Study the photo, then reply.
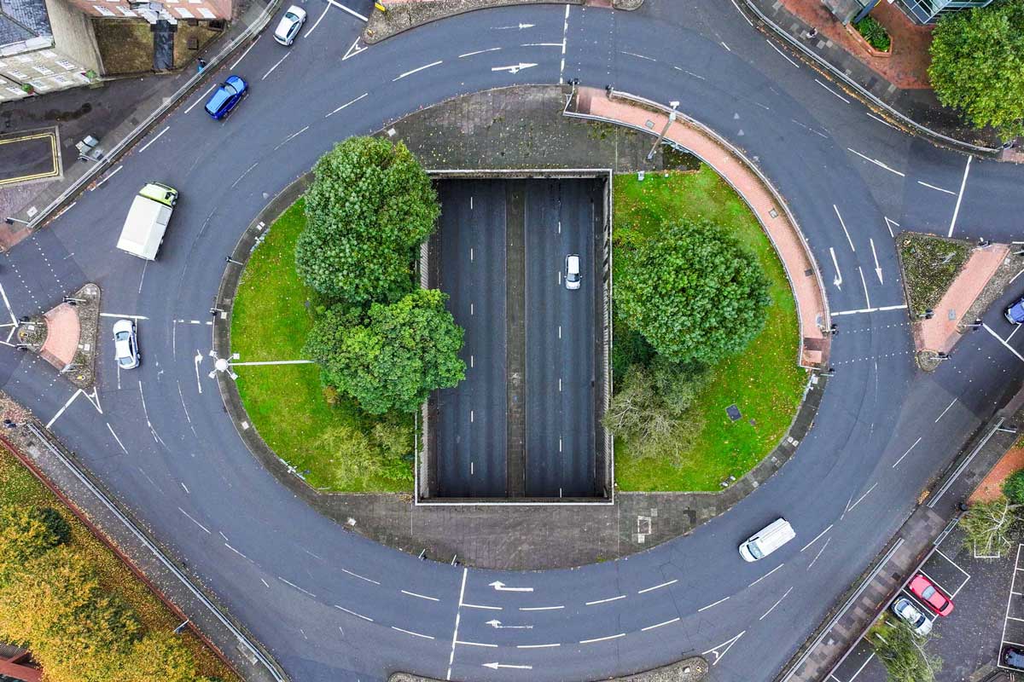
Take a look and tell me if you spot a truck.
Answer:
Yes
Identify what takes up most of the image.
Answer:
paved ground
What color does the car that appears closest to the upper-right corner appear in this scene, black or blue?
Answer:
blue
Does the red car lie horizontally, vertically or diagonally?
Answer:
diagonally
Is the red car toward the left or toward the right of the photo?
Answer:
right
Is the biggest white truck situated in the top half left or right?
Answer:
left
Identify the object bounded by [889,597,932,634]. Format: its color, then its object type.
white car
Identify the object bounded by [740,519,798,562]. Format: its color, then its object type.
white van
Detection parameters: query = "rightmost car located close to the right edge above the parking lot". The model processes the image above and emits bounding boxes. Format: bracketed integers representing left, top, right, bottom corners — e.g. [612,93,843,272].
[1003,295,1024,325]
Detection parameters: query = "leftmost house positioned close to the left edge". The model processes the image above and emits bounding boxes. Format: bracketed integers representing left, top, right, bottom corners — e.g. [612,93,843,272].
[0,0,104,103]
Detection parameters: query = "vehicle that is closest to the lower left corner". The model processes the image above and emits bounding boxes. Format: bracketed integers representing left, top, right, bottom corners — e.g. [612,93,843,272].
[112,320,142,369]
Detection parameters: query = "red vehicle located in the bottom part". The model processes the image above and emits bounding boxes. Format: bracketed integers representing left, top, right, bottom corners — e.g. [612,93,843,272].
[908,575,955,617]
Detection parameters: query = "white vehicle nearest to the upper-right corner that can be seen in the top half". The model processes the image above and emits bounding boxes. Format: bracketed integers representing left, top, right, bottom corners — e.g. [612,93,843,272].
[563,254,582,290]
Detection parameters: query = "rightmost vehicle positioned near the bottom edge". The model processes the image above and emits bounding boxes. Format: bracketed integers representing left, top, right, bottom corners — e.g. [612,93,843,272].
[1002,646,1024,673]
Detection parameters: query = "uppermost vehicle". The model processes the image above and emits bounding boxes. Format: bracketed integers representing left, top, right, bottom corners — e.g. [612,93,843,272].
[275,7,307,45]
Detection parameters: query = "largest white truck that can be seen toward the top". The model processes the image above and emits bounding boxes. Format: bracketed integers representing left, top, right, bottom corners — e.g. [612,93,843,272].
[120,185,182,260]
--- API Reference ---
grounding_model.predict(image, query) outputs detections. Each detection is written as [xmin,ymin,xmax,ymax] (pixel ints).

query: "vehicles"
[120,185,182,260]
[1003,295,1024,325]
[275,7,307,45]
[112,320,142,369]
[205,76,247,122]
[908,575,955,617]
[563,254,582,290]
[889,597,932,634]
[740,519,798,562]
[1002,646,1024,673]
